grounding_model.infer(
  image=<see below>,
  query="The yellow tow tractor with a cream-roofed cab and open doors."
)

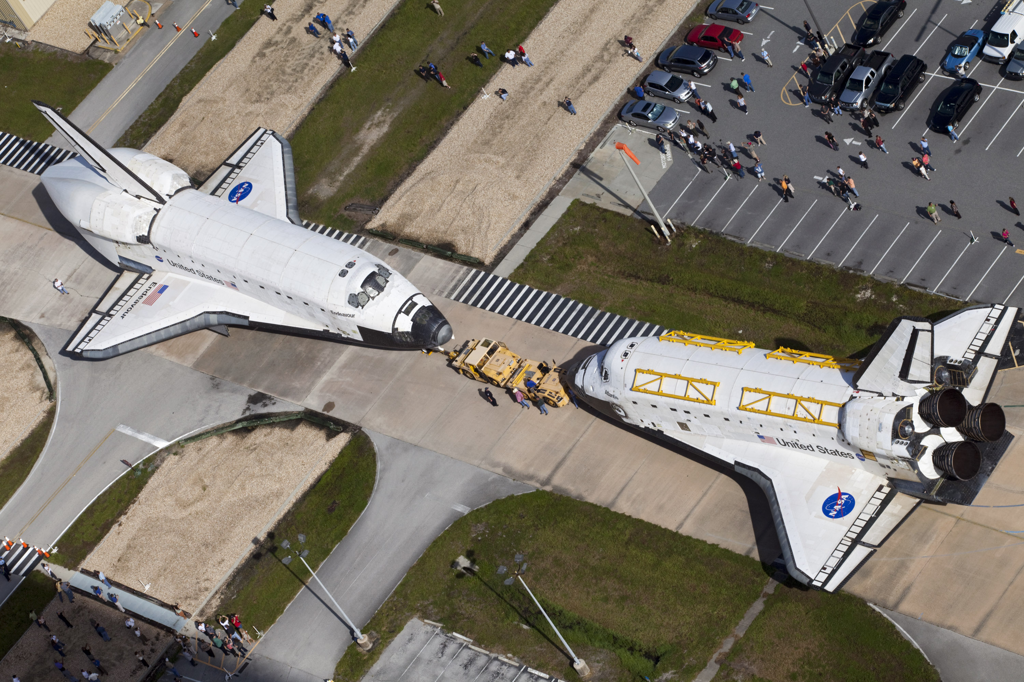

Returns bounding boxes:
[449,337,522,389]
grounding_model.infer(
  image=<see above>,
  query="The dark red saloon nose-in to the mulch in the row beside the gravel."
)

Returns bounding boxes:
[682,18,743,52]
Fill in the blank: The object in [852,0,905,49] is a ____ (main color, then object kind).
black car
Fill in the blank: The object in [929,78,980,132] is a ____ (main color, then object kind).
black car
